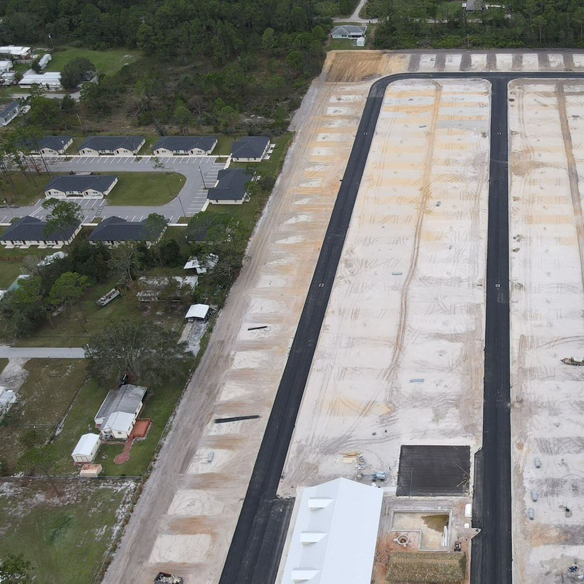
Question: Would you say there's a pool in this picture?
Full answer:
Yes, there's a pool here.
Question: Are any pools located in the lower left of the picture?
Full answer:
No, I can find no pool in the lower left of the picture.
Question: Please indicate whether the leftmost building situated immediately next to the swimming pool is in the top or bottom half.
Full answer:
The leftmost building situated immediately next to the swimming pool is in the bottom half of the image.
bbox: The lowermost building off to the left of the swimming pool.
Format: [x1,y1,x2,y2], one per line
[281,479,383,584]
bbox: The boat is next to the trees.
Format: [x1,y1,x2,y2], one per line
[95,290,120,305]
